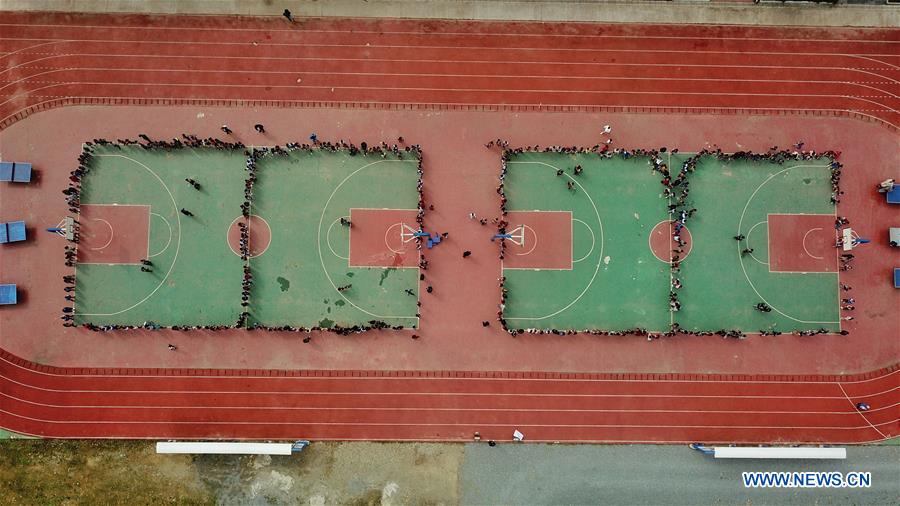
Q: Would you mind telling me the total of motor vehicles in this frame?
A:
0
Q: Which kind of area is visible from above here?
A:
sports ground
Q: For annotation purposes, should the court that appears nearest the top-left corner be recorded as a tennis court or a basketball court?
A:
basketball court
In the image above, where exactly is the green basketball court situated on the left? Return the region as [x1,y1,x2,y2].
[73,143,421,329]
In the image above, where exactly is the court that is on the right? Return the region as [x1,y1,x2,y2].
[503,150,840,334]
